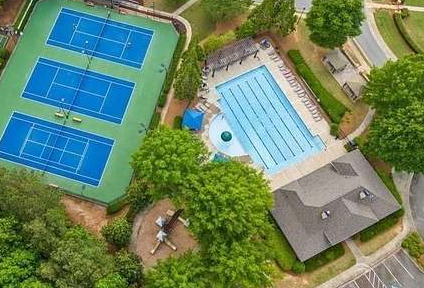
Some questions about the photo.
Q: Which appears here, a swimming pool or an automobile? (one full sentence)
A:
Looking from above, you can make out a swimming pool.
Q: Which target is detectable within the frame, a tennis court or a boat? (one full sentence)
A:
Looking from above, you can make out a tennis court.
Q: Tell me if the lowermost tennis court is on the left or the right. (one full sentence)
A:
The lowermost tennis court is on the left side of the image.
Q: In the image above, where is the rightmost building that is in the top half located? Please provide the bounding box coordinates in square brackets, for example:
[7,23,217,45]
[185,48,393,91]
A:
[340,76,370,102]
